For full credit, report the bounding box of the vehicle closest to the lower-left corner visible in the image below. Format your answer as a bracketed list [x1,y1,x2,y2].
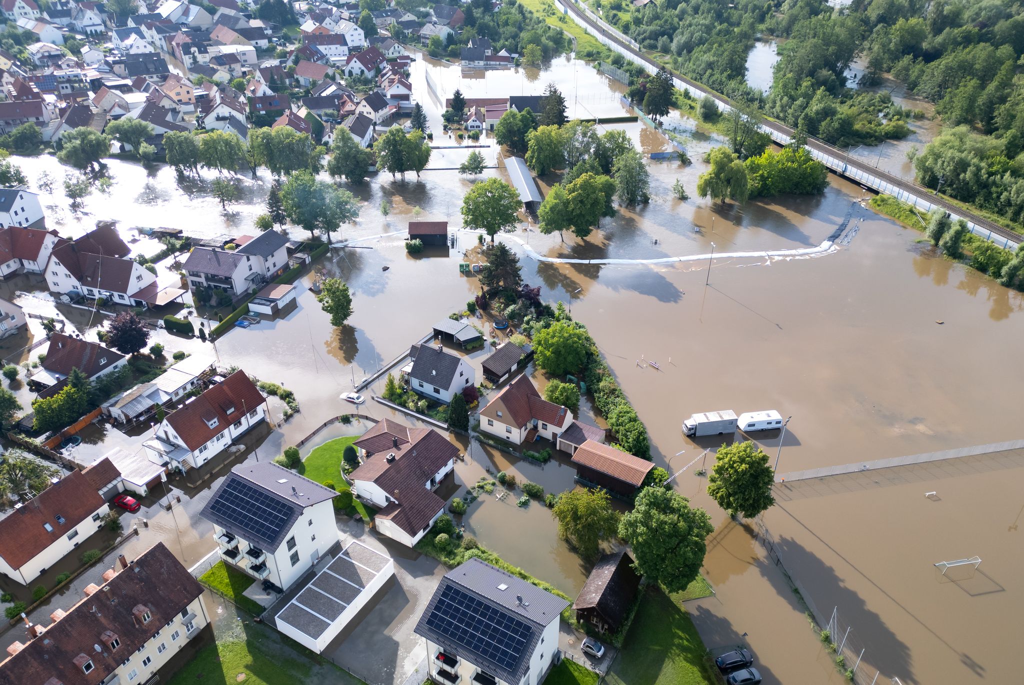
[112,495,140,512]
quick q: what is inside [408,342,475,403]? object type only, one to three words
house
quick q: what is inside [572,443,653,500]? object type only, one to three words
barn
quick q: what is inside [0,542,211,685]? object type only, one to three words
building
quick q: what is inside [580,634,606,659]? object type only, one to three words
car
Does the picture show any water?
Yes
